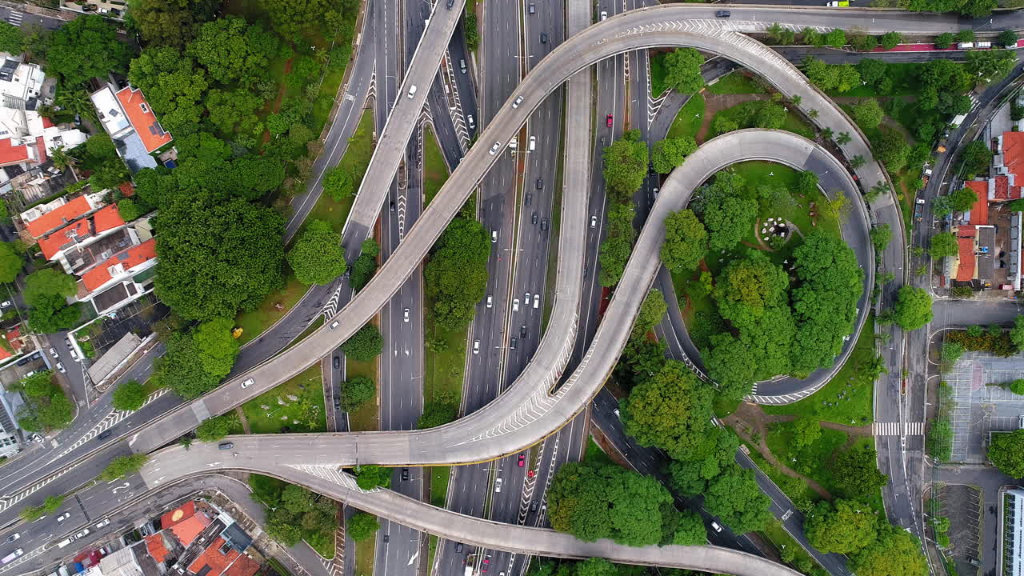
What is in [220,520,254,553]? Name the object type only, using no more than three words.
house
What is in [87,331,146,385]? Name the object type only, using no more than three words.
shed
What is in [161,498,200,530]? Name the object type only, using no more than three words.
house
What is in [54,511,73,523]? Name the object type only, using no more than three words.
vehicle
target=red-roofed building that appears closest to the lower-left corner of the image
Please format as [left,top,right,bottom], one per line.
[74,546,107,567]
